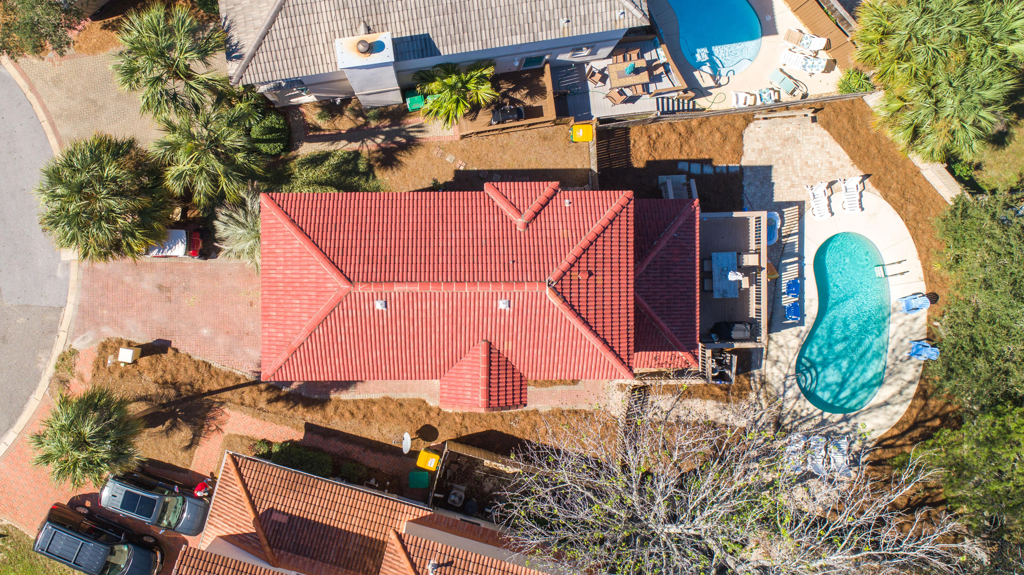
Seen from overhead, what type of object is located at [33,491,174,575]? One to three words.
car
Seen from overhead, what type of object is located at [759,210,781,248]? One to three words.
swimming pool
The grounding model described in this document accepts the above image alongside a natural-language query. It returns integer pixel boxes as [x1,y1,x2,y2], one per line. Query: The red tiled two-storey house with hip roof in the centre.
[258,179,703,413]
